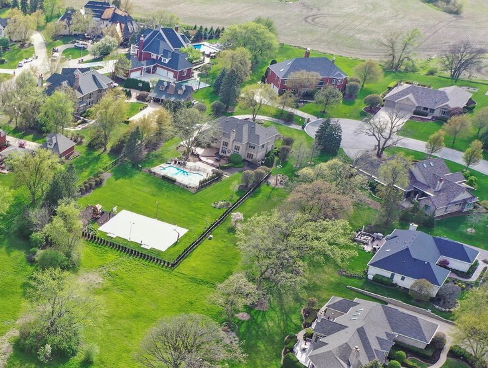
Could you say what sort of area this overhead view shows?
residential area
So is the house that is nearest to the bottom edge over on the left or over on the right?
right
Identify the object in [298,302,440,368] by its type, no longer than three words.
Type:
house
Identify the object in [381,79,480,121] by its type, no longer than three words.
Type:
house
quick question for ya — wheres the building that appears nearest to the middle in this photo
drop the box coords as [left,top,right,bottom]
[218,121,289,164]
